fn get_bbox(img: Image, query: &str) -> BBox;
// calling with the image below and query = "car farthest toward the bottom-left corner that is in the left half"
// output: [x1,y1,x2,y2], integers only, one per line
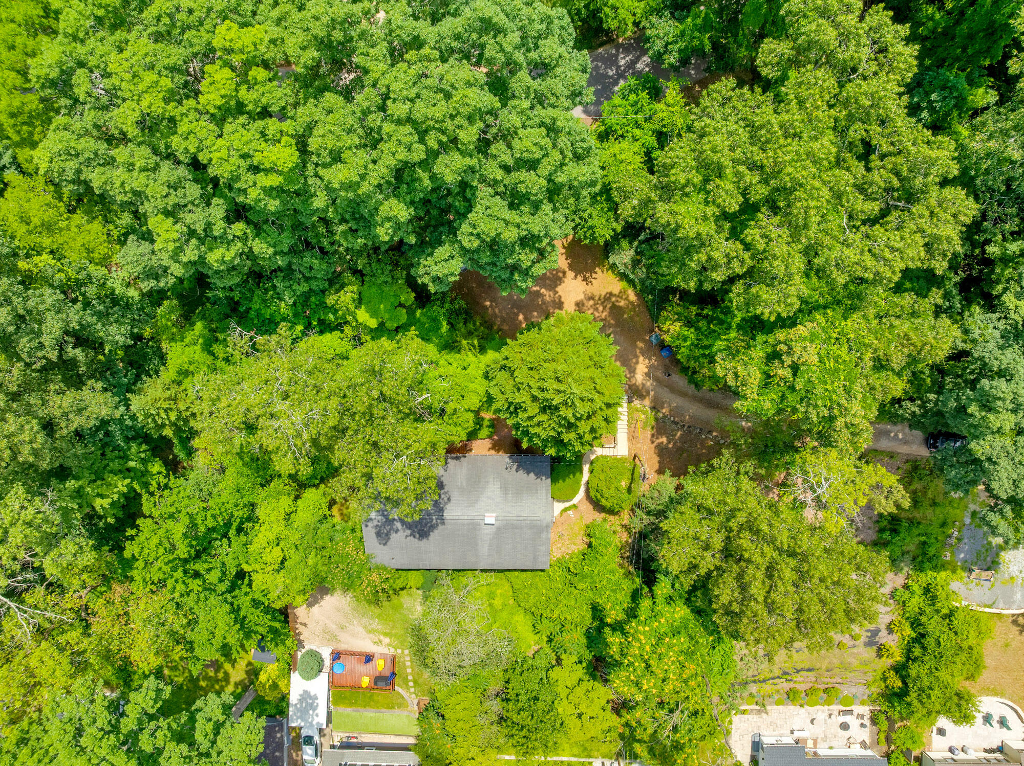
[298,727,323,766]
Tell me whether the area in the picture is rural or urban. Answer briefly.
rural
